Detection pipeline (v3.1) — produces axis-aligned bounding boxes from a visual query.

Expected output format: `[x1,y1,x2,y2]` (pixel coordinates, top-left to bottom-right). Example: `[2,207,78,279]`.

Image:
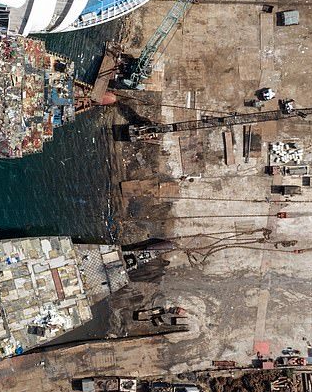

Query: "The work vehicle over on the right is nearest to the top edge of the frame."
[255,81,289,102]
